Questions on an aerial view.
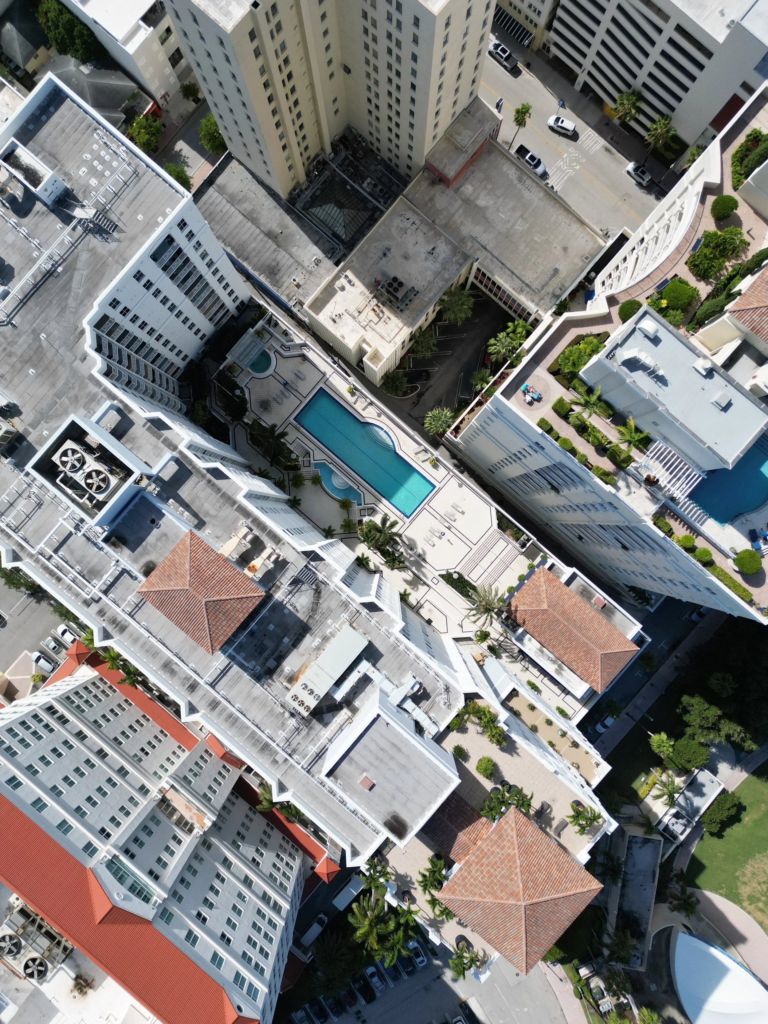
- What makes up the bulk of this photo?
buildings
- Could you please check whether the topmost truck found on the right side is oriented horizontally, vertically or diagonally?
diagonally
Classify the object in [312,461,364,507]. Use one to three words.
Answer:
swimming pool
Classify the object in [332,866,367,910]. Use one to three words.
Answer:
truck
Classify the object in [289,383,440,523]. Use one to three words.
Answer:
swimming pool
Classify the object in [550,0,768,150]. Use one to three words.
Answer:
building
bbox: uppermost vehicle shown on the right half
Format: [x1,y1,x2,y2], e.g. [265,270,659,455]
[486,37,524,76]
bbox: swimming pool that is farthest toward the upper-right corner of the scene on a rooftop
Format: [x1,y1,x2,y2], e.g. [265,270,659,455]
[685,423,768,535]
